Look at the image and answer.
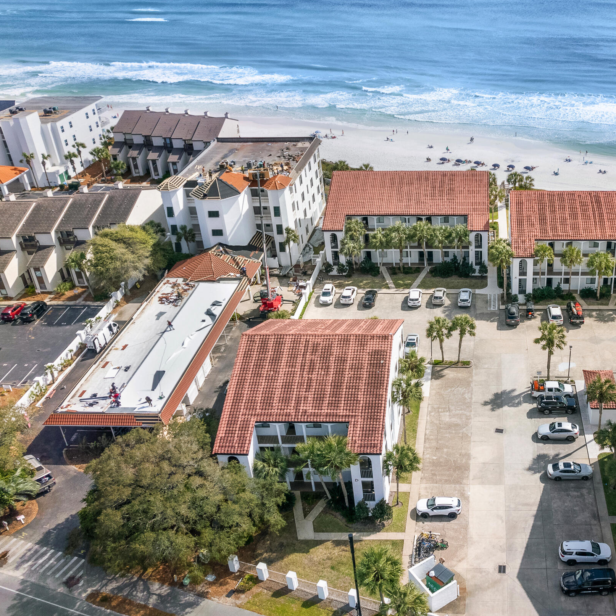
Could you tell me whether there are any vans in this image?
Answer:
Yes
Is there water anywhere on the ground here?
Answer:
Yes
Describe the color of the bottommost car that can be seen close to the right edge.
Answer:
black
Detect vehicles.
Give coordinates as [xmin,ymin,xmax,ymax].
[340,284,358,302]
[13,459,46,499]
[547,459,593,481]
[559,566,616,596]
[20,298,51,319]
[432,285,446,303]
[408,286,423,304]
[2,300,29,319]
[567,300,584,322]
[537,419,580,440]
[525,302,534,315]
[362,287,378,304]
[504,301,520,322]
[557,537,613,565]
[534,390,578,414]
[404,332,420,354]
[416,495,462,518]
[529,377,575,397]
[320,281,338,302]
[79,313,119,350]
[548,303,563,322]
